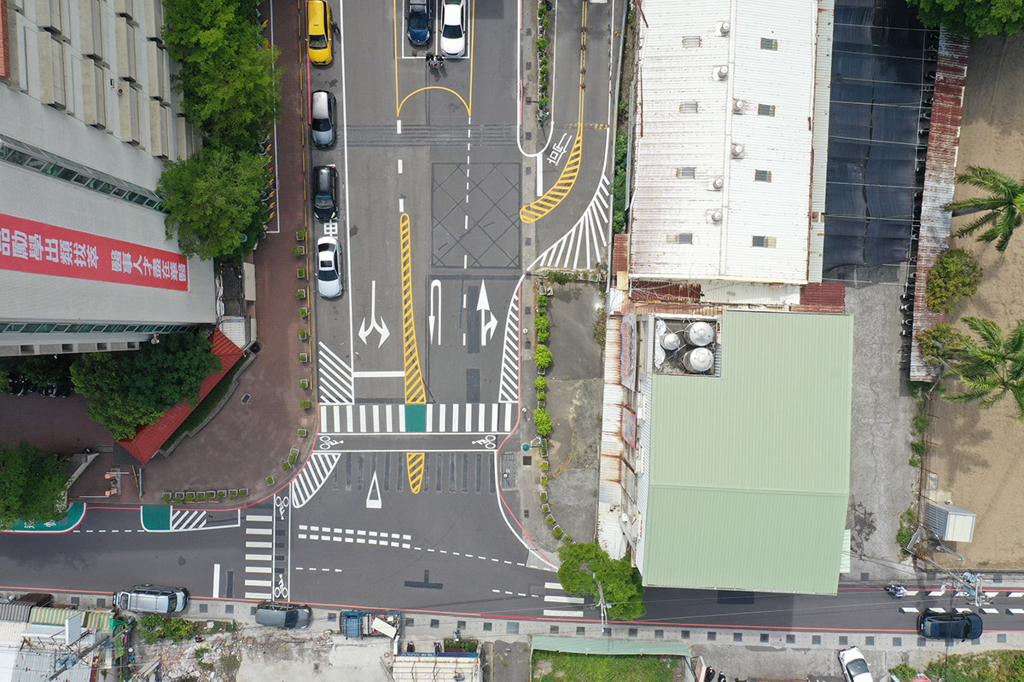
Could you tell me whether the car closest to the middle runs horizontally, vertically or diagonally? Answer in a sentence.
In this picture, the car closest to the middle lies vertically.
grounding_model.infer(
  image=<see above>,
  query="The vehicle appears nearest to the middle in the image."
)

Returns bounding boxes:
[312,234,343,298]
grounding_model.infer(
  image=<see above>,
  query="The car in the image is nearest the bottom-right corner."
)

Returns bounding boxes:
[917,610,984,645]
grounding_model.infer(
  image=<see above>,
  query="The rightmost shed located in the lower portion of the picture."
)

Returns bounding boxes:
[923,503,978,544]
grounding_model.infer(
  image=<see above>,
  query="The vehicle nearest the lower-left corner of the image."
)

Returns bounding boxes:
[107,583,185,618]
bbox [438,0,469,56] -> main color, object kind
white car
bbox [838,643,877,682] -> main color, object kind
white car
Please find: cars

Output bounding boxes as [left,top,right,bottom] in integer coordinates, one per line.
[917,610,984,645]
[312,234,343,298]
[438,0,469,56]
[403,0,433,40]
[251,600,312,634]
[305,85,337,147]
[838,643,877,682]
[107,583,185,618]
[301,0,334,59]
[307,160,339,220]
